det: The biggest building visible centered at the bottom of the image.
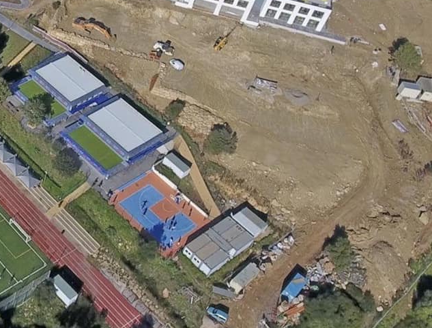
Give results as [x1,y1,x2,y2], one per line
[180,214,253,280]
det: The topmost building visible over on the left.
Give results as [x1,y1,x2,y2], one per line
[29,51,111,112]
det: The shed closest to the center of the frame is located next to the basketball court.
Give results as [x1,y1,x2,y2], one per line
[161,151,191,180]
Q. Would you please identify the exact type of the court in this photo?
basketball court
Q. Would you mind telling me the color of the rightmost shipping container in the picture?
blue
